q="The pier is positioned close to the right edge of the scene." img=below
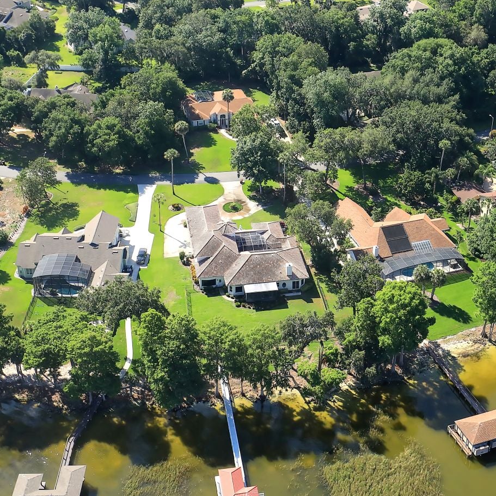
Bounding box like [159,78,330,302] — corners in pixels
[420,338,492,414]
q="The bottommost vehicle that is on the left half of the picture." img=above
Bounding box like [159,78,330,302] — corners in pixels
[136,245,149,262]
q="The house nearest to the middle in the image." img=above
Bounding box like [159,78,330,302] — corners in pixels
[186,199,309,307]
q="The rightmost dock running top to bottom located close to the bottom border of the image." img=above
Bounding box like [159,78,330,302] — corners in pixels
[217,377,251,486]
